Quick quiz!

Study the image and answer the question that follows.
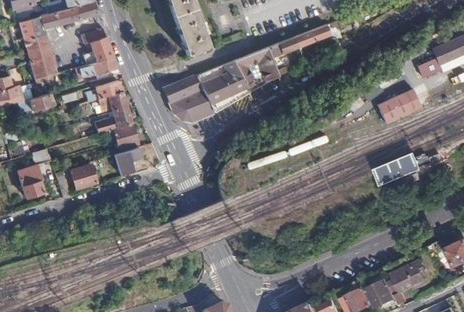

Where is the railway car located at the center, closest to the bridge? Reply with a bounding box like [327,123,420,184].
[245,152,288,170]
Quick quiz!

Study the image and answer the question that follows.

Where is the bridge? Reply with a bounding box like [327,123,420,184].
[162,199,235,258]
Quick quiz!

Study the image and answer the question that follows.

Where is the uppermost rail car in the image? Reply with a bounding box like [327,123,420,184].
[286,136,329,156]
